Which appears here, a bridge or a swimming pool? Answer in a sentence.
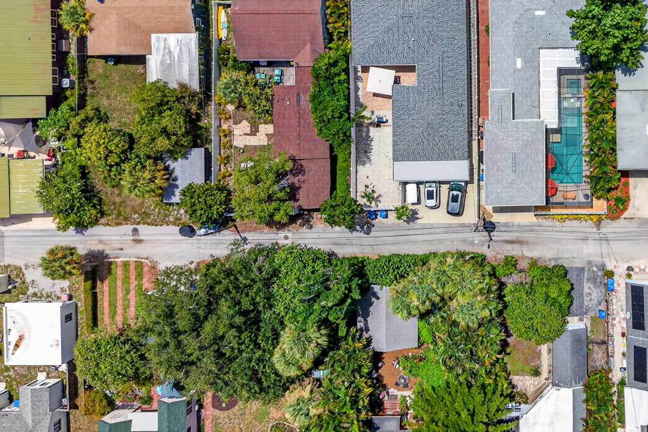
There is a swimming pool in the scene.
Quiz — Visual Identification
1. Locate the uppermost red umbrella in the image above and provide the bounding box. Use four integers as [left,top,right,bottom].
[544,154,557,171]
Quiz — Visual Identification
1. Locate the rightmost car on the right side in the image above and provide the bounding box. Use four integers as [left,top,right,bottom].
[447,180,469,218]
